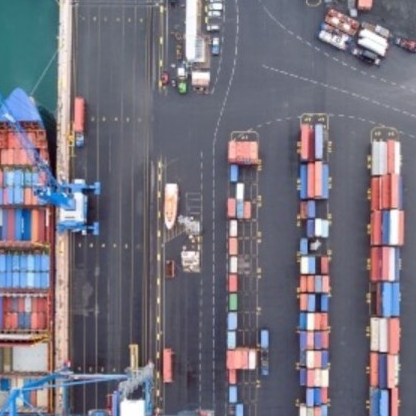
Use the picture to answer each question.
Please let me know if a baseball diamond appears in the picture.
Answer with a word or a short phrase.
No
